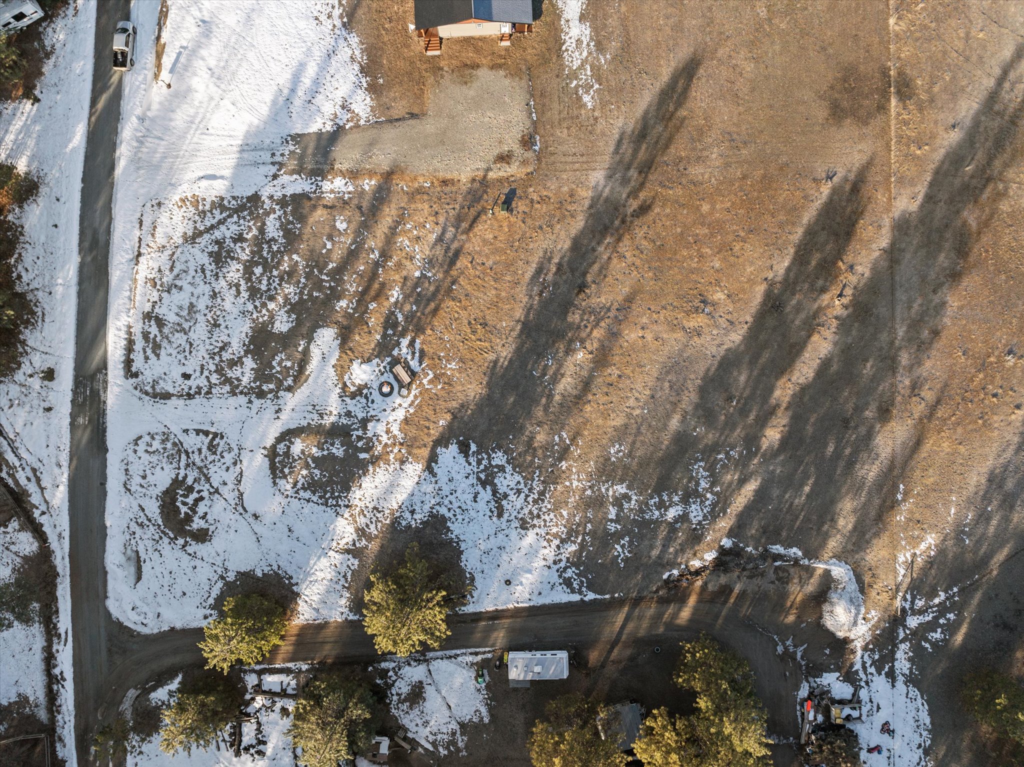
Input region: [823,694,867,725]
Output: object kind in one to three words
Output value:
trailer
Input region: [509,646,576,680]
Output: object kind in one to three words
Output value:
vehicle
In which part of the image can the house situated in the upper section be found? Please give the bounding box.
[414,0,533,63]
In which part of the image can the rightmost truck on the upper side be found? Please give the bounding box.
[109,21,135,73]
